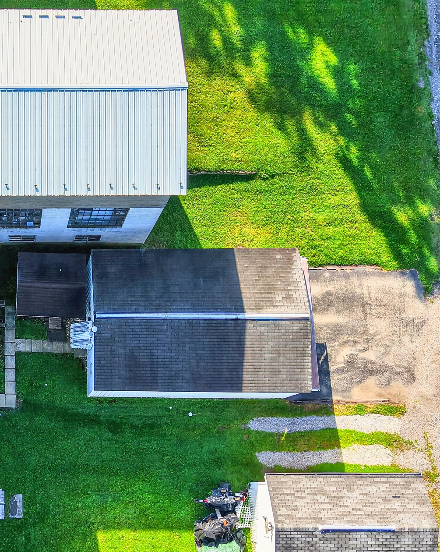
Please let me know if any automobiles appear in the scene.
No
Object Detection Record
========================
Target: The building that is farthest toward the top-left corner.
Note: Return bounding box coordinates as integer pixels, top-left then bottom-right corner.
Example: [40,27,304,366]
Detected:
[0,10,189,245]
